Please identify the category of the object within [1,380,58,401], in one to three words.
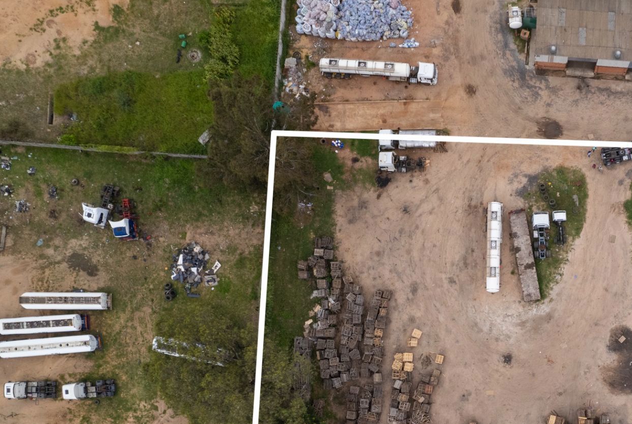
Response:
vehicle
